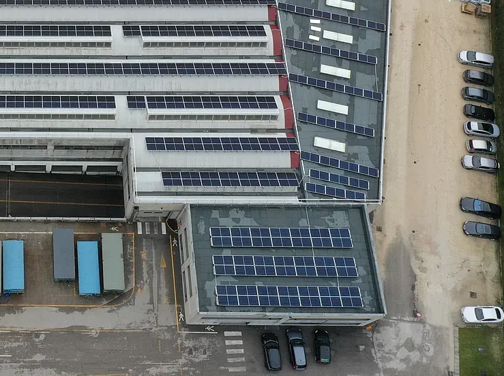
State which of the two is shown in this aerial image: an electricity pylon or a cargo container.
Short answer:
cargo container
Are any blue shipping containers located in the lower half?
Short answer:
Yes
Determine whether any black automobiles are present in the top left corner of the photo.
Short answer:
No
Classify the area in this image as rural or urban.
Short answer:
urban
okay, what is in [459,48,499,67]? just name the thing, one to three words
car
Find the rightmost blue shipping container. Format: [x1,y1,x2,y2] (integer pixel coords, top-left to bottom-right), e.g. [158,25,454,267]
[74,241,100,300]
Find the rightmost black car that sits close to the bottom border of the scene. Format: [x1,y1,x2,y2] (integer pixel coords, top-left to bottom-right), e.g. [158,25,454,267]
[312,328,335,365]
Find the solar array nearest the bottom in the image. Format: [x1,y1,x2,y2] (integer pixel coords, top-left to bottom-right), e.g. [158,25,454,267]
[216,285,363,306]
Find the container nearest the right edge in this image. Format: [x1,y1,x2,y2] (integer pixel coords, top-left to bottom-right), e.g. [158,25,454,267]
[99,233,125,296]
